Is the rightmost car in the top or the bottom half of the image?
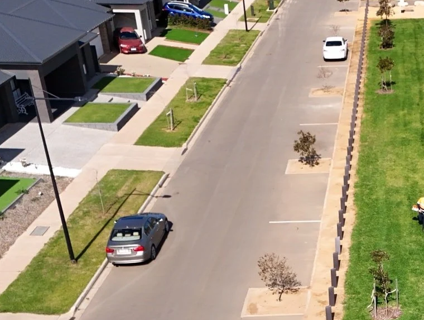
top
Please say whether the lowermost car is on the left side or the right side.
left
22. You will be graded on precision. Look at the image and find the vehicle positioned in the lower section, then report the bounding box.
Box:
[103,209,169,266]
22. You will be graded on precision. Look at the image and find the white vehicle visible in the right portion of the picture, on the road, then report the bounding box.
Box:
[323,33,352,58]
